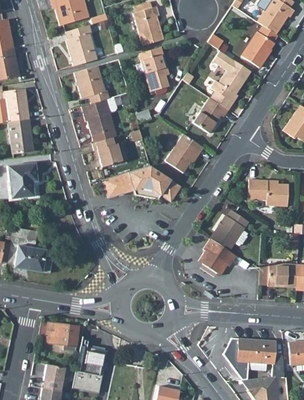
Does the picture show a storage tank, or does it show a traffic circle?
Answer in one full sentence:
I can see a traffic circle in this picture.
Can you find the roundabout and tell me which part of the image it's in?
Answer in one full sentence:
The roundabout sits in the bottom section of the image.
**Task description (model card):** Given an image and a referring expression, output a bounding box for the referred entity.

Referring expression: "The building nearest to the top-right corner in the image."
[256,0,295,36]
